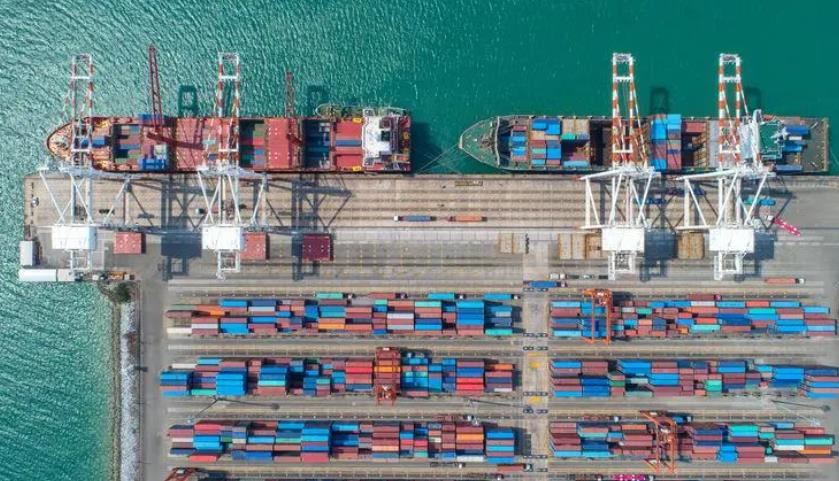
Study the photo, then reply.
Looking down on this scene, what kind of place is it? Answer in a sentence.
What you see here is a port.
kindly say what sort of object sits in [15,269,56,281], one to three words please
shed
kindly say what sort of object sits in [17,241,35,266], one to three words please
shed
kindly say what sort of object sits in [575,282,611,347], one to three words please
container crane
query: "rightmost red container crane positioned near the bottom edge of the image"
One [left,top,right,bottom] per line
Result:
[635,404,675,475]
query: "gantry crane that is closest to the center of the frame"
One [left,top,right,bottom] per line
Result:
[374,341,405,410]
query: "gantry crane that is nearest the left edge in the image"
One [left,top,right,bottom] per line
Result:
[48,52,151,282]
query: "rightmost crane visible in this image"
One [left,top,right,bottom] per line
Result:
[664,52,764,282]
